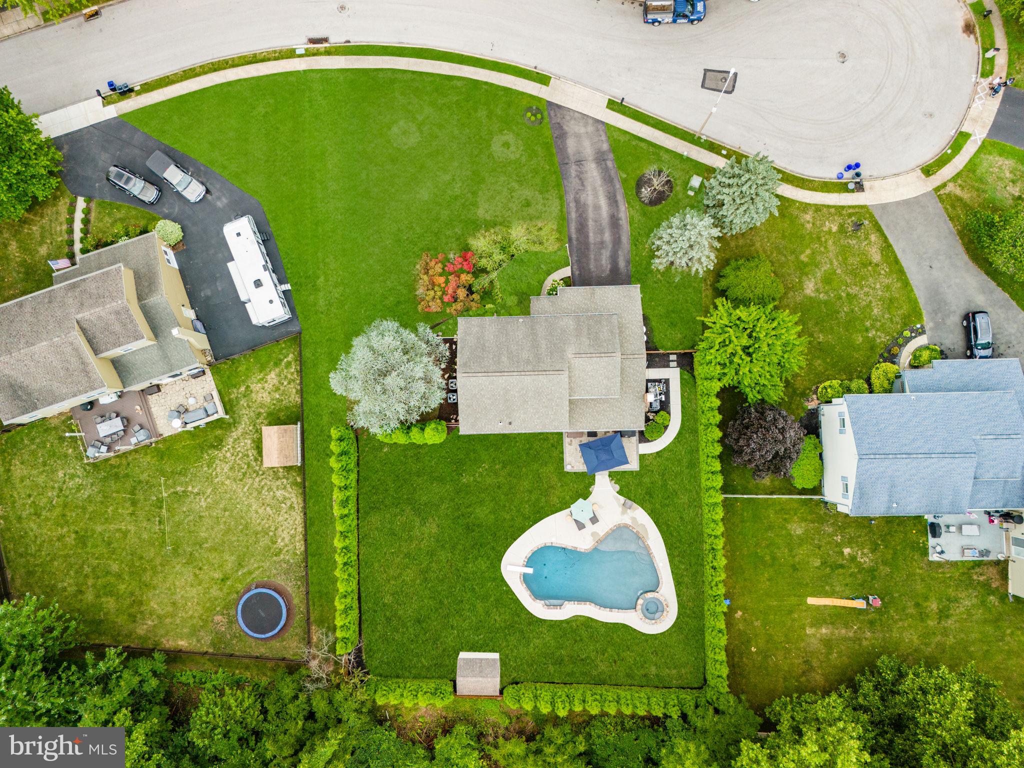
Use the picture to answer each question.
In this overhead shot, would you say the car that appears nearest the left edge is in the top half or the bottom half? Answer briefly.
top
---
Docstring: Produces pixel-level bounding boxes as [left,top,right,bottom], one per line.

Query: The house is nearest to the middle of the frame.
[457,283,655,436]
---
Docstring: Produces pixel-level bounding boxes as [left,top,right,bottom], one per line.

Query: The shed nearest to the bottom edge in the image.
[457,649,499,693]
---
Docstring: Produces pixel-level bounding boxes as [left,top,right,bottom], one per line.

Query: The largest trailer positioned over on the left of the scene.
[226,216,296,326]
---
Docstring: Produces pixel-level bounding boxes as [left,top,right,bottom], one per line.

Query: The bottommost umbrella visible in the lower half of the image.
[571,498,594,524]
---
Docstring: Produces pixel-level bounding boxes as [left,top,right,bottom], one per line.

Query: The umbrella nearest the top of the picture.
[578,433,629,475]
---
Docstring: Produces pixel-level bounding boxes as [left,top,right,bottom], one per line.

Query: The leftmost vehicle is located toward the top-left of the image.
[108,165,164,205]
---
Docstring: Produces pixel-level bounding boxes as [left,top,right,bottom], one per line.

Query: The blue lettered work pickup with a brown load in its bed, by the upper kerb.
[645,0,708,26]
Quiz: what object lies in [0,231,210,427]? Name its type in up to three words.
house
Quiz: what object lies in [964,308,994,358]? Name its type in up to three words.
car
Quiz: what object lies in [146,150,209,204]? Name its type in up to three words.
truck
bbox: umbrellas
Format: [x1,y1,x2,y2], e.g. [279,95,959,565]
[578,433,629,475]
[571,498,594,524]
